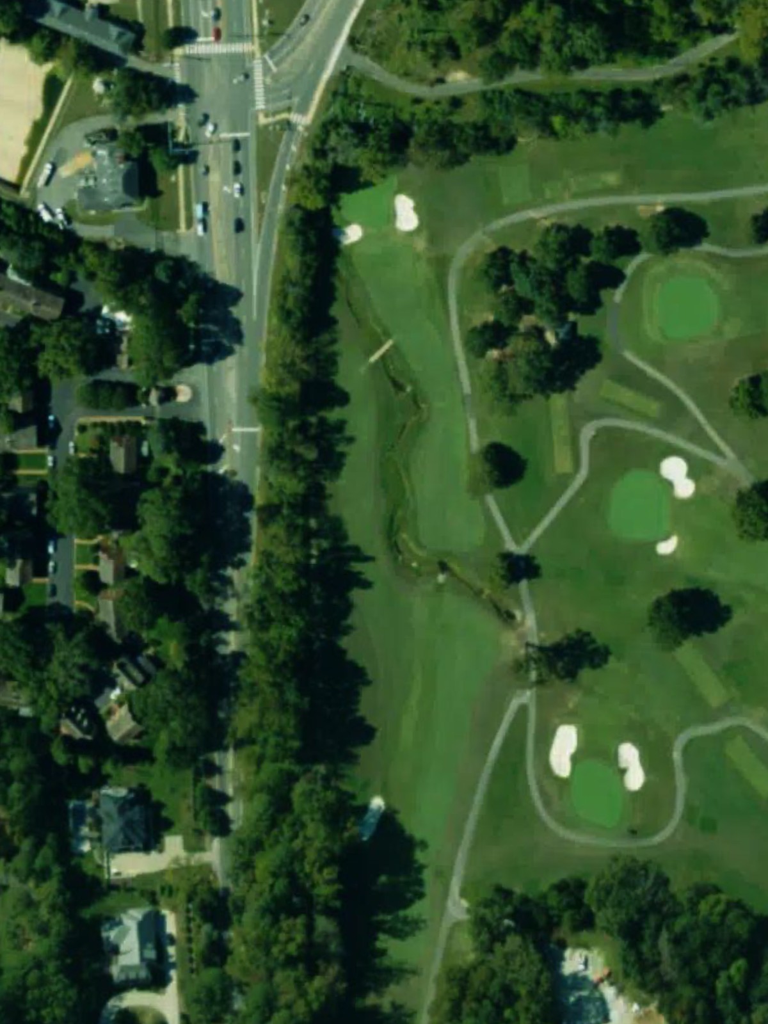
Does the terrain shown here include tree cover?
Yes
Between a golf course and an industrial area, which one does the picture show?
golf course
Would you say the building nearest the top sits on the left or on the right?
left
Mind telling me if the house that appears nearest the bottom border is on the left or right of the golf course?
left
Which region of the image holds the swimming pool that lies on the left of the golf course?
bottom left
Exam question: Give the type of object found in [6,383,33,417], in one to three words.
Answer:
house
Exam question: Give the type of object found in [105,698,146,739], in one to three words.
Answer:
house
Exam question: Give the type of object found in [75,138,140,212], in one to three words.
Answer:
building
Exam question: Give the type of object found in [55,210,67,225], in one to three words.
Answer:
vehicle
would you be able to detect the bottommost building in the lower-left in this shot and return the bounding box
[100,898,156,985]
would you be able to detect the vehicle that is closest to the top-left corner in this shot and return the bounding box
[38,163,53,187]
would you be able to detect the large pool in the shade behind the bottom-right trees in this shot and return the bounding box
[558,985,616,1024]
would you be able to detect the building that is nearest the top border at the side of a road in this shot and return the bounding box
[30,0,139,60]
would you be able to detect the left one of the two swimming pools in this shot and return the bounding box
[69,801,91,853]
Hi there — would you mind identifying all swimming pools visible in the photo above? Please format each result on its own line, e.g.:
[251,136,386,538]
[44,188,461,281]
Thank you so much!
[558,985,616,1024]
[69,801,91,853]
